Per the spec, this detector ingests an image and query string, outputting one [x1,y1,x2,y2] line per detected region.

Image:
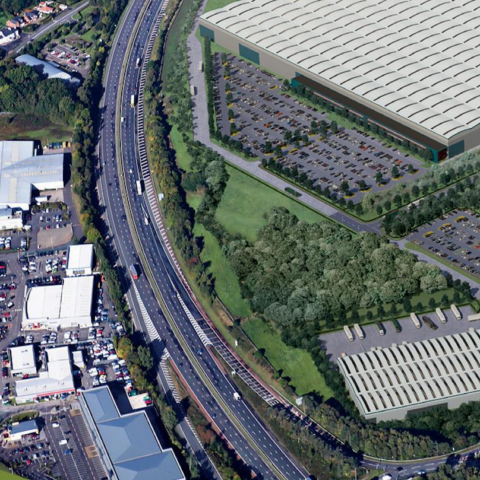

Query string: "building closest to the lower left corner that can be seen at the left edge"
[5,419,39,444]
